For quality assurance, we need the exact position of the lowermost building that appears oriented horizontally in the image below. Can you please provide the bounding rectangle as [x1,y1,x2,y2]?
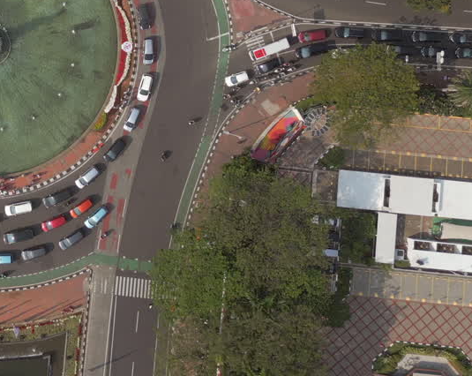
[401,236,472,272]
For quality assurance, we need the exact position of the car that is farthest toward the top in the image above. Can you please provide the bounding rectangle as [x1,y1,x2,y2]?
[139,2,153,31]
